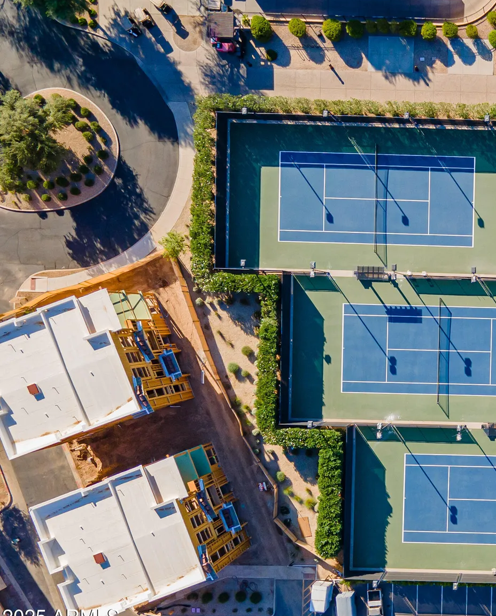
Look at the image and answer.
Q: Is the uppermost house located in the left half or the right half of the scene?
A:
left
